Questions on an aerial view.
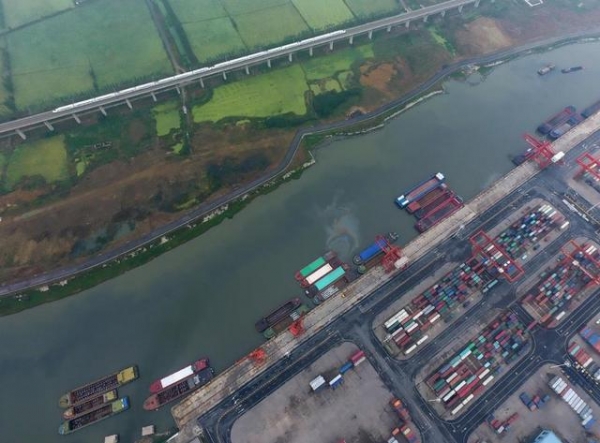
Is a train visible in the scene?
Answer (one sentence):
Yes, the photo shows a train.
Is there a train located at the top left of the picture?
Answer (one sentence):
Yes, you'll find a train at the top left of the picture.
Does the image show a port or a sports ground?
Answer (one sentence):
The picture captures a port.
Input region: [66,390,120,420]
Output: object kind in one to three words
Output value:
ship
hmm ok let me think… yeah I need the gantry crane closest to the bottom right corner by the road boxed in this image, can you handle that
[554,239,600,296]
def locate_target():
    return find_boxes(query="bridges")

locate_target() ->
[0,0,496,139]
